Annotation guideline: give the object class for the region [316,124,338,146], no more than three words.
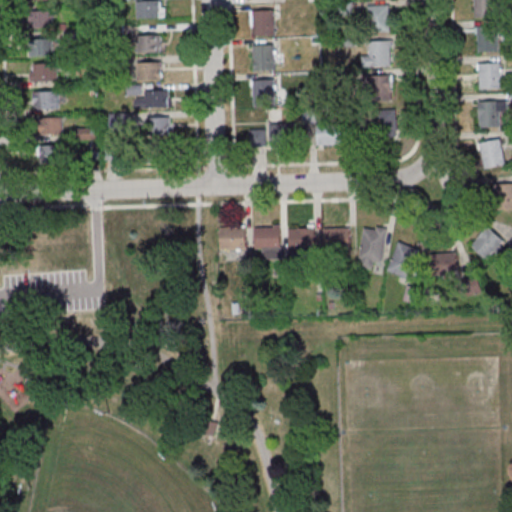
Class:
house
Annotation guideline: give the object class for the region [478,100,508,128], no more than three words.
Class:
house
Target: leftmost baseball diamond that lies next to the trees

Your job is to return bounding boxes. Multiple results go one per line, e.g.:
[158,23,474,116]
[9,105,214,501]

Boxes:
[28,406,216,512]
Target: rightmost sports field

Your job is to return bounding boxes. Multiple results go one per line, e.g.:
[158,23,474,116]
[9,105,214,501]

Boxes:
[344,356,504,512]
